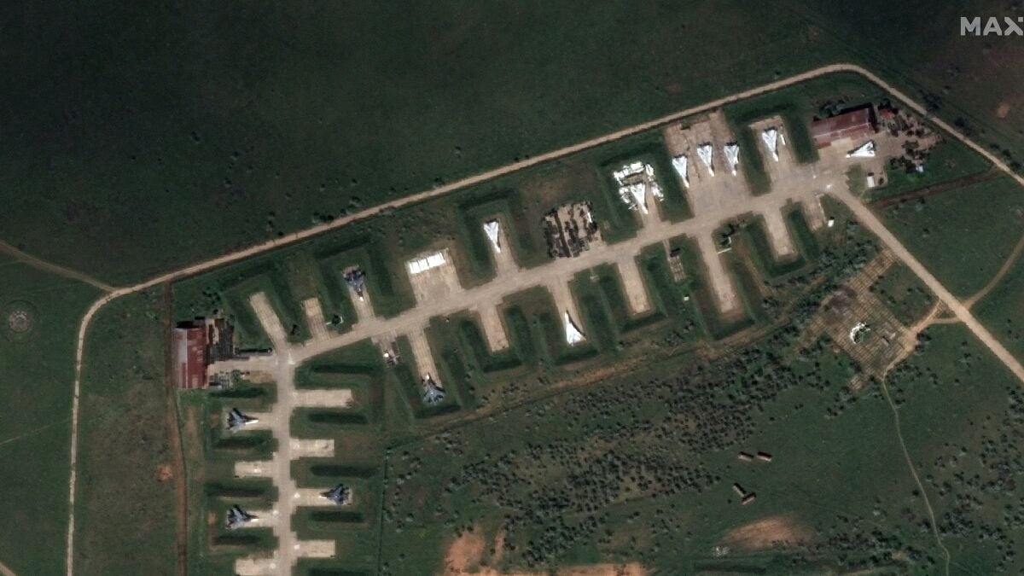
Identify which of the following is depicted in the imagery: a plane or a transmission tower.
plane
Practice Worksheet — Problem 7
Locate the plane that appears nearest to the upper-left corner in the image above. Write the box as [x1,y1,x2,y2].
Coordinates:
[344,269,364,297]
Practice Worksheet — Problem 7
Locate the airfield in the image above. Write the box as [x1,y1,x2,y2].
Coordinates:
[201,97,941,576]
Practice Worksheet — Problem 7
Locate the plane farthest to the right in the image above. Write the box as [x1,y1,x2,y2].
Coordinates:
[848,142,878,157]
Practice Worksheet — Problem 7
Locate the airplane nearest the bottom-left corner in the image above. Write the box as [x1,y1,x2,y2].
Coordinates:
[228,508,257,528]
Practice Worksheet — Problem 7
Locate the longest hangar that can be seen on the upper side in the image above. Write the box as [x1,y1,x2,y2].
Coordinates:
[811,107,876,149]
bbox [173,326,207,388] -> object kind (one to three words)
hangar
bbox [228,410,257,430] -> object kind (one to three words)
airplane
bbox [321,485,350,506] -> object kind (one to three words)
airplane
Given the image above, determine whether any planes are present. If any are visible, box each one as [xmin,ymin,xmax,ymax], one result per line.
[321,485,350,506]
[763,129,778,161]
[672,155,688,187]
[228,410,257,430]
[228,508,257,528]
[484,220,499,251]
[724,145,740,176]
[344,269,364,297]
[566,313,585,345]
[630,182,647,214]
[698,145,713,176]
[848,142,878,157]
[423,375,443,405]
